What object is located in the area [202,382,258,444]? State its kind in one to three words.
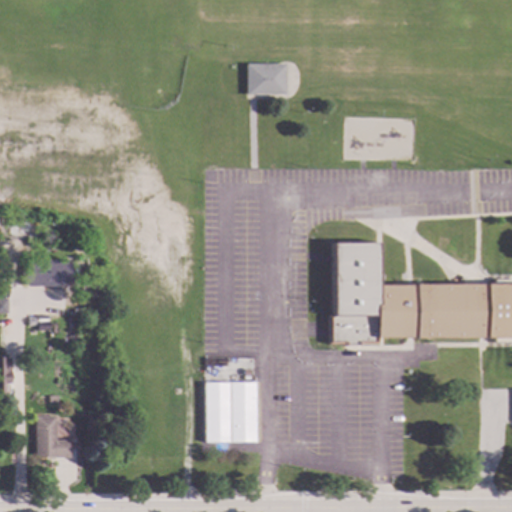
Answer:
building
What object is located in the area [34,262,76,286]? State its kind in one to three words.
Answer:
house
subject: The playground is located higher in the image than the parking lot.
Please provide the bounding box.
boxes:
[343,116,412,162]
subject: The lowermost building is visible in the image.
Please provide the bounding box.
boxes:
[36,414,74,460]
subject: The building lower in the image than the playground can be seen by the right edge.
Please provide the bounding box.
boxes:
[330,244,512,344]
